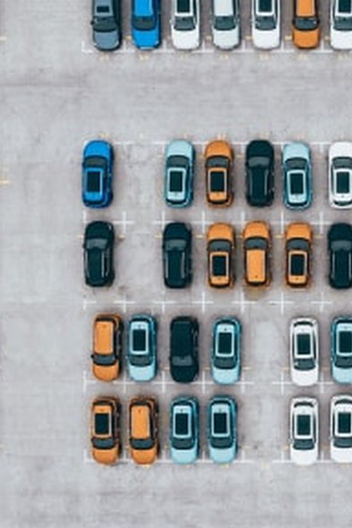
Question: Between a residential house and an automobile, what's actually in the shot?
automobile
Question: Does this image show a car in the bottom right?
Yes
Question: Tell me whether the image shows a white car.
Yes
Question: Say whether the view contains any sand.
No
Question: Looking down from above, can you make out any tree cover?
No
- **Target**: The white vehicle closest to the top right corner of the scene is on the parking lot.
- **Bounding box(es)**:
[329,0,352,51]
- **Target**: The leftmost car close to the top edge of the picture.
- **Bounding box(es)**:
[90,0,123,51]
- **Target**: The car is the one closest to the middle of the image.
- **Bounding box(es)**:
[161,221,193,288]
